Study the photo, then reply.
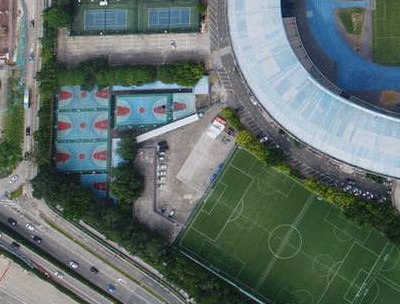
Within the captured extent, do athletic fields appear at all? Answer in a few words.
Yes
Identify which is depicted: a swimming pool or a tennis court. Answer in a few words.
tennis court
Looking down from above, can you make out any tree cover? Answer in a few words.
Yes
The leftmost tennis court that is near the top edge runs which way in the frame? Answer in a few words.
horizontally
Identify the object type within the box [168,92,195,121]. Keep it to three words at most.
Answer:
basketball court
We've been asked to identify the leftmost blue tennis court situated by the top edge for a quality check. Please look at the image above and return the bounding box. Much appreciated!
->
[85,8,128,30]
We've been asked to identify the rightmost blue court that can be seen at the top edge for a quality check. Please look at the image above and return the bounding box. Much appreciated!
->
[148,6,191,29]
